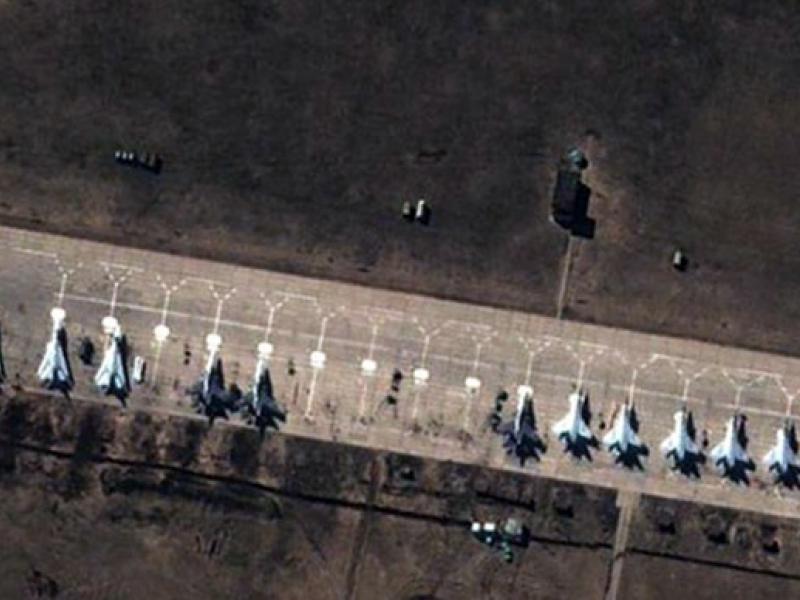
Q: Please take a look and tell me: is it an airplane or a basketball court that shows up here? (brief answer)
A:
airplane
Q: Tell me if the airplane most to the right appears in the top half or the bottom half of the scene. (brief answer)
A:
bottom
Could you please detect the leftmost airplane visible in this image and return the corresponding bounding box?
[38,320,69,384]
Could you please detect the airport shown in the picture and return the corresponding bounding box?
[0,228,800,516]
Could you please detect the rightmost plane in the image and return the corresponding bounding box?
[763,416,800,477]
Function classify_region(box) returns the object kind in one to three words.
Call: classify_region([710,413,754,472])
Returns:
airplane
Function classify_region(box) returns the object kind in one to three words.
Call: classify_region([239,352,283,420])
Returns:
airplane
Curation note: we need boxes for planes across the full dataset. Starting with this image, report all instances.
[187,345,230,411]
[553,387,597,447]
[659,405,703,463]
[239,352,283,420]
[603,397,646,458]
[96,326,127,392]
[495,388,539,452]
[710,413,754,472]
[38,320,69,384]
[763,416,800,477]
